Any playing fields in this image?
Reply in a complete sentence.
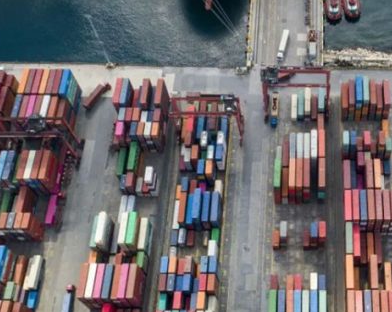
No, I can't see a single playing field in this photo.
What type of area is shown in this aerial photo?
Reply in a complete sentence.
The area seen from above is a port.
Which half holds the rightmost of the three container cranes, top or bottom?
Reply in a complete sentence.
Seen from above, the rightmost of the three container cranes lies in the top half of the view.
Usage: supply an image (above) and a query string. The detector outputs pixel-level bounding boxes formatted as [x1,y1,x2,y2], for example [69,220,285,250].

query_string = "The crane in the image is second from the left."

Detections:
[170,93,250,150]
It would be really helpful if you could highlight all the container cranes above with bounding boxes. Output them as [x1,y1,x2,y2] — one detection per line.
[0,114,83,170]
[170,93,250,150]
[263,66,334,122]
